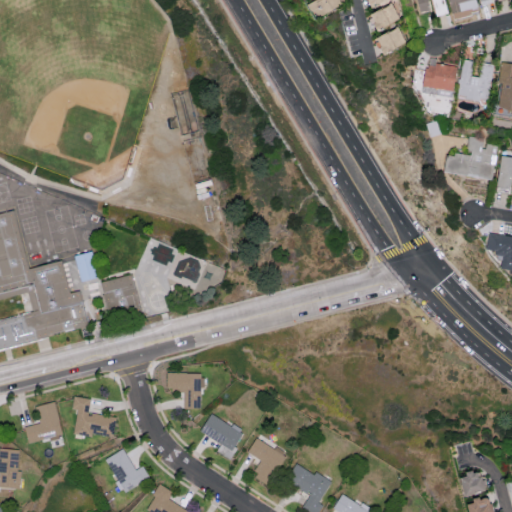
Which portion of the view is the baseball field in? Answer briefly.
top left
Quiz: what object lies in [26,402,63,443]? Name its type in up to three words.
house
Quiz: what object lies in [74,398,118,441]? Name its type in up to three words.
house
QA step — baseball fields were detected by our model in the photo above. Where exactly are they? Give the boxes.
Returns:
[0,0,167,189]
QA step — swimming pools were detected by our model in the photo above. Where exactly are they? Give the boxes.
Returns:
[456,99,486,116]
